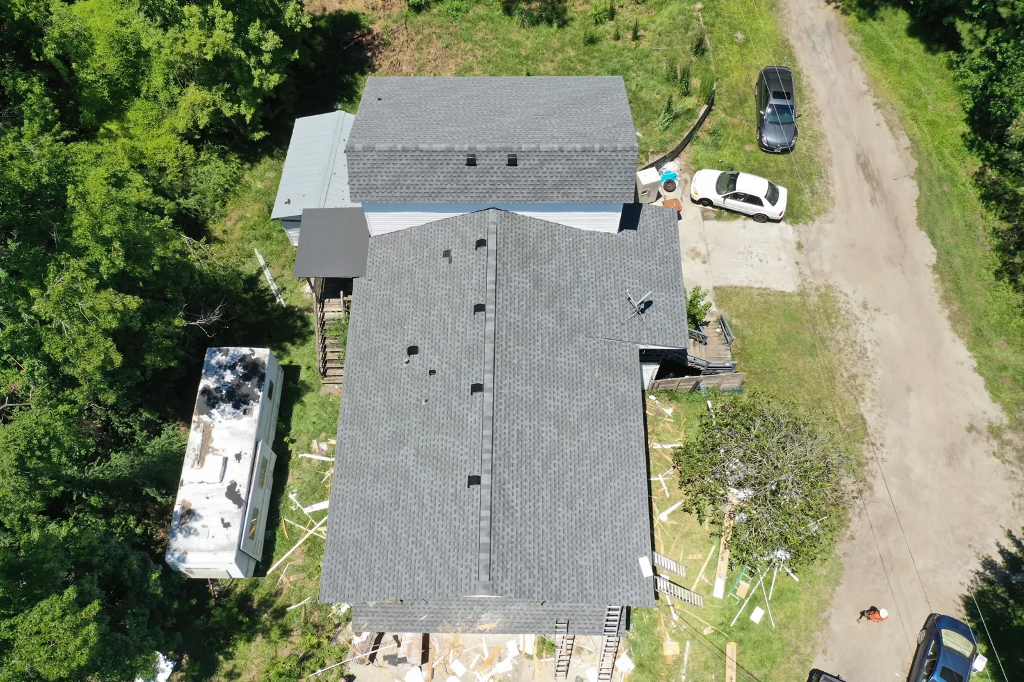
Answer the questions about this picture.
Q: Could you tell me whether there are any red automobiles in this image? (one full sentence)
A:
No, no red automobile can be seen from above.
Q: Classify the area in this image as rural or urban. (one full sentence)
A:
This place is urban.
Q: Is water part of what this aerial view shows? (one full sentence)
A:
No, there's no water in this view.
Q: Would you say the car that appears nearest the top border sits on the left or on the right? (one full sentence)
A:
The car that appears nearest the top border appears in the right half of the scene.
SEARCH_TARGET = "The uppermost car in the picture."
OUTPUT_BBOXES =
[753,67,803,150]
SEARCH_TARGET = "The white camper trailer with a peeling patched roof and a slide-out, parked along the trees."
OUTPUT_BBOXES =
[170,349,284,613]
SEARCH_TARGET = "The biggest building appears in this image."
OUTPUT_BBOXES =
[294,76,689,635]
